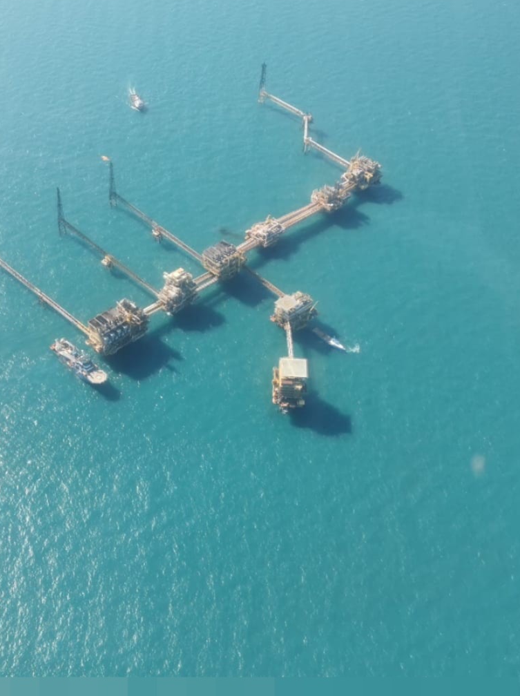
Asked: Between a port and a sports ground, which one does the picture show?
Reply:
port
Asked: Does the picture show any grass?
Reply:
No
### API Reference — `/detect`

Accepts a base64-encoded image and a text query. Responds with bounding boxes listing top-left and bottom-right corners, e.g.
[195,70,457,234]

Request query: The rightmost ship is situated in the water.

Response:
[309,324,350,353]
